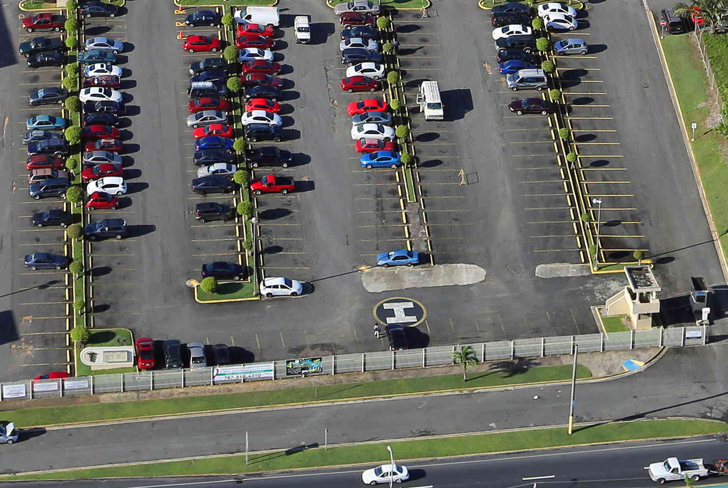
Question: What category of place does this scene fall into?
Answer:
parking lot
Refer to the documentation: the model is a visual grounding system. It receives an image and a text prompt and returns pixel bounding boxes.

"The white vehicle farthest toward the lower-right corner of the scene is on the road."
[647,459,708,485]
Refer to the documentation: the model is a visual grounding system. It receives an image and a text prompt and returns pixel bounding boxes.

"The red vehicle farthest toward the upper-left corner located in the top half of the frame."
[22,13,65,32]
